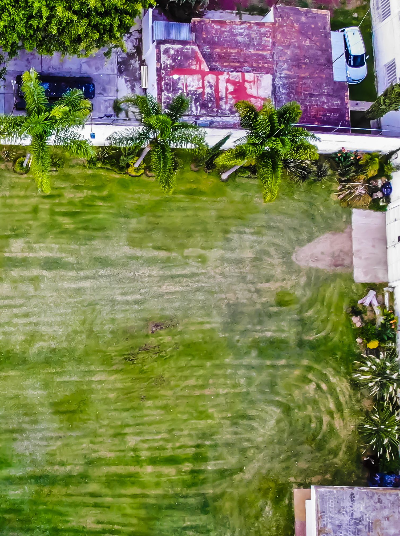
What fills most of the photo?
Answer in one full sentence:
What you mostly see from above here is grass.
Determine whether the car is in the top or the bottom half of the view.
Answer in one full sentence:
You can find the car in the top half.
